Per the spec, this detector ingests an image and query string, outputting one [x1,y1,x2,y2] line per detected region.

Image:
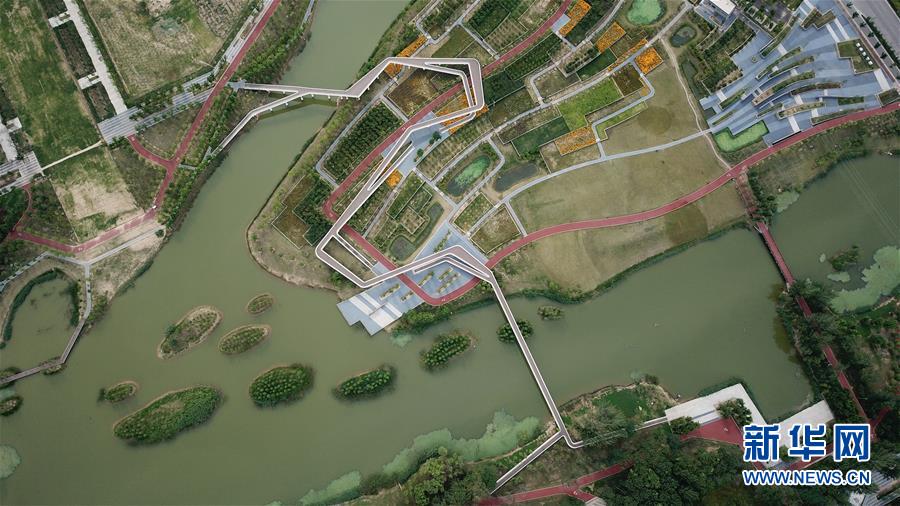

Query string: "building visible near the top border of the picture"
[694,0,739,33]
